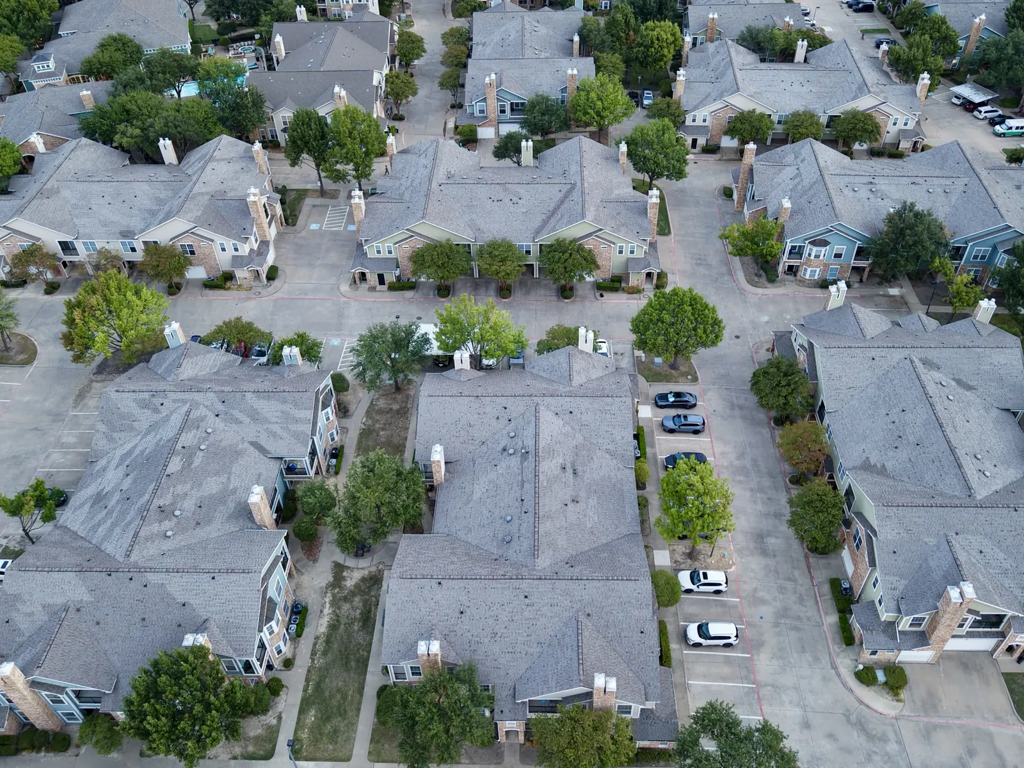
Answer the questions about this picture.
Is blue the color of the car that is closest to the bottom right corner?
No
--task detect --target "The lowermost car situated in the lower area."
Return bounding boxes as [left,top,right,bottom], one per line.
[686,623,744,653]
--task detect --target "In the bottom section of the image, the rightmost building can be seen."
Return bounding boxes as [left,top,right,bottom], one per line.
[771,284,1024,663]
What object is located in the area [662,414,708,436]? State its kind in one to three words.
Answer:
car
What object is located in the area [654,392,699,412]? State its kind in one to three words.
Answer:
car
